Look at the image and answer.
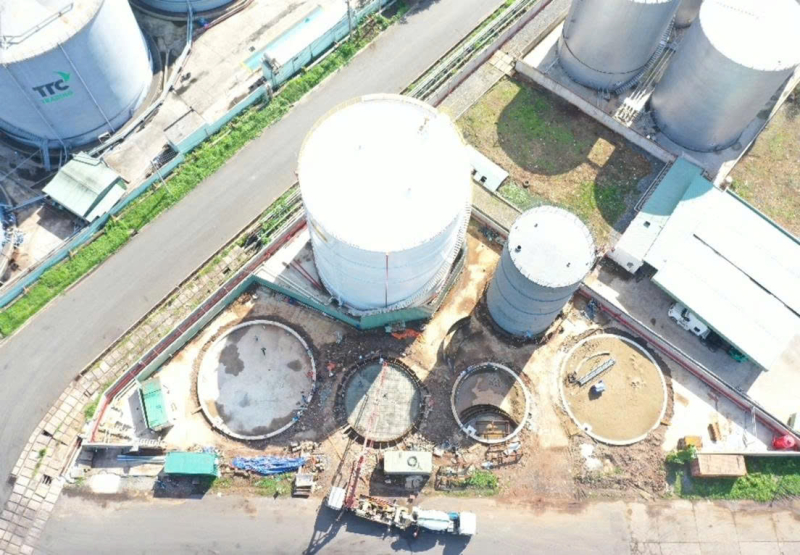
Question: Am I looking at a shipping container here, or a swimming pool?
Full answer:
I can see a shipping container in this picture.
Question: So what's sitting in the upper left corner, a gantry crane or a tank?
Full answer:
Visible in the upper left corner is a tank.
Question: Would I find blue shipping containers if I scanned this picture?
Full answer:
No, I can't see a single blue shipping container in this photo.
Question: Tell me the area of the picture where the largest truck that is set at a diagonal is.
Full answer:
The largest truck that is set at a diagonal is in the right part of the image.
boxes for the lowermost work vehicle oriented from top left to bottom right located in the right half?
[723,347,747,366]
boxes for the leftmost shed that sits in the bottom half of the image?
[135,375,174,431]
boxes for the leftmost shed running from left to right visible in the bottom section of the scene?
[164,451,224,480]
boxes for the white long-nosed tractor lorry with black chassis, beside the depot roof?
[666,306,726,357]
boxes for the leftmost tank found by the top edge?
[0,0,166,151]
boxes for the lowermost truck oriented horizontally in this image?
[402,505,477,536]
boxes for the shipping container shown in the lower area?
[384,453,434,478]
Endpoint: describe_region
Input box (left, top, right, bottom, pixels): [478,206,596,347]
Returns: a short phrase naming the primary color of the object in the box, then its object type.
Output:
white storage tank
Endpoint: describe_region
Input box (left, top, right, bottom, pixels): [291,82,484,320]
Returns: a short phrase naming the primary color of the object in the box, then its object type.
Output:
white storage tank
